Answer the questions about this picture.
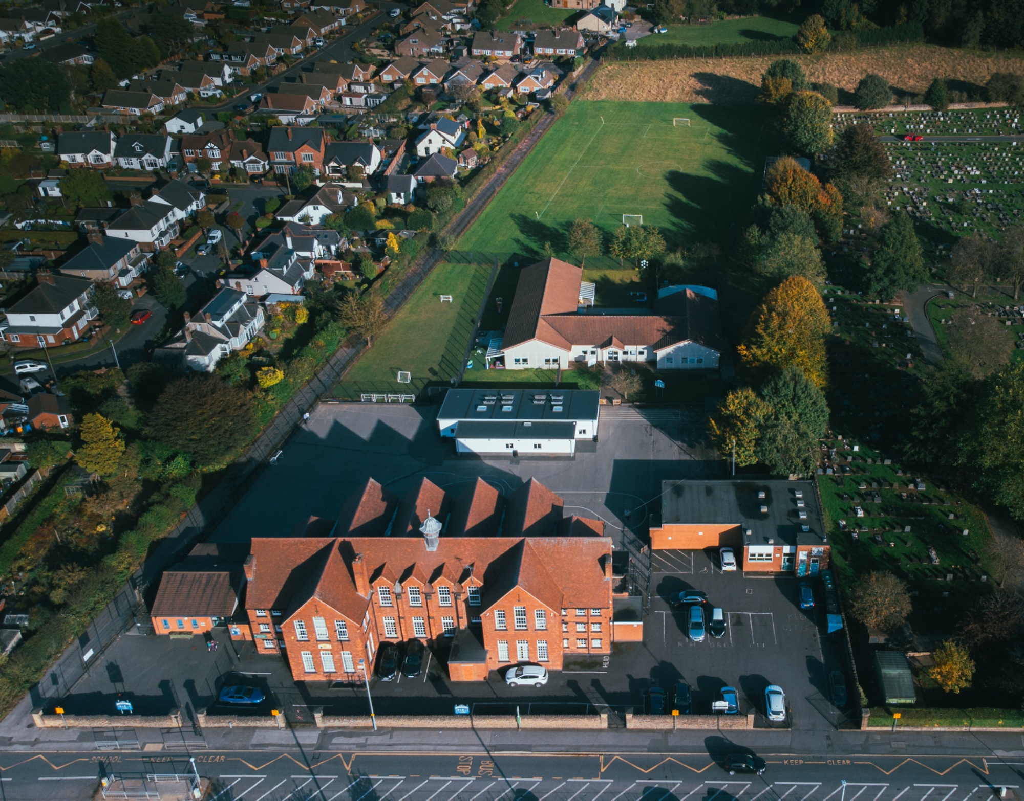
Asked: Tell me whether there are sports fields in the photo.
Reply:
Yes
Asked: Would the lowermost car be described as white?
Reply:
No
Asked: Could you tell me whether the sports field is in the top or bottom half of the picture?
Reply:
top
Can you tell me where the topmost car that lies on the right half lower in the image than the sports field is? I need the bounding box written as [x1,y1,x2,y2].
[718,545,737,569]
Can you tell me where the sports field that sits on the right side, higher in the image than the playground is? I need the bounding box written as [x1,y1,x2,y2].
[450,99,796,265]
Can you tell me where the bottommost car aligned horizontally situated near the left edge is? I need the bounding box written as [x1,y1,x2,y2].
[13,357,47,372]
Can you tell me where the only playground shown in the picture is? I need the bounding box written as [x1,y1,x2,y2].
[208,401,737,593]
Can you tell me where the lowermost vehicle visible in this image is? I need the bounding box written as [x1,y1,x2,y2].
[724,750,767,774]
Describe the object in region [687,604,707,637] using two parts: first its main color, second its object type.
blue car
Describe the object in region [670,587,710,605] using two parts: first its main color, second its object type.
black car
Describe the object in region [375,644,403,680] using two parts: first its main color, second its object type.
black car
